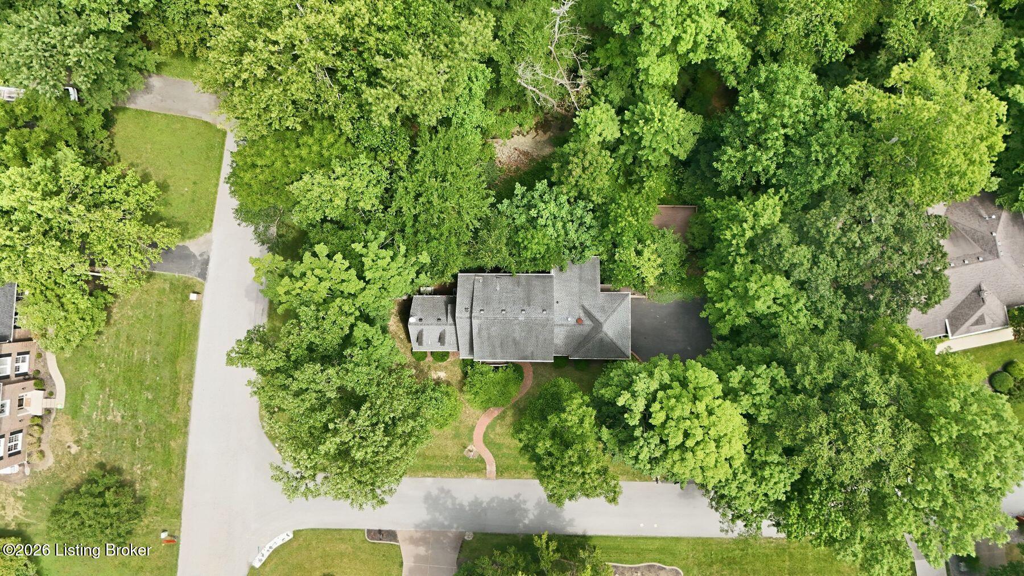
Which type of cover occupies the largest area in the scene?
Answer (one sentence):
The scene is dominated by trees.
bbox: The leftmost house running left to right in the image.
[408,256,631,366]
